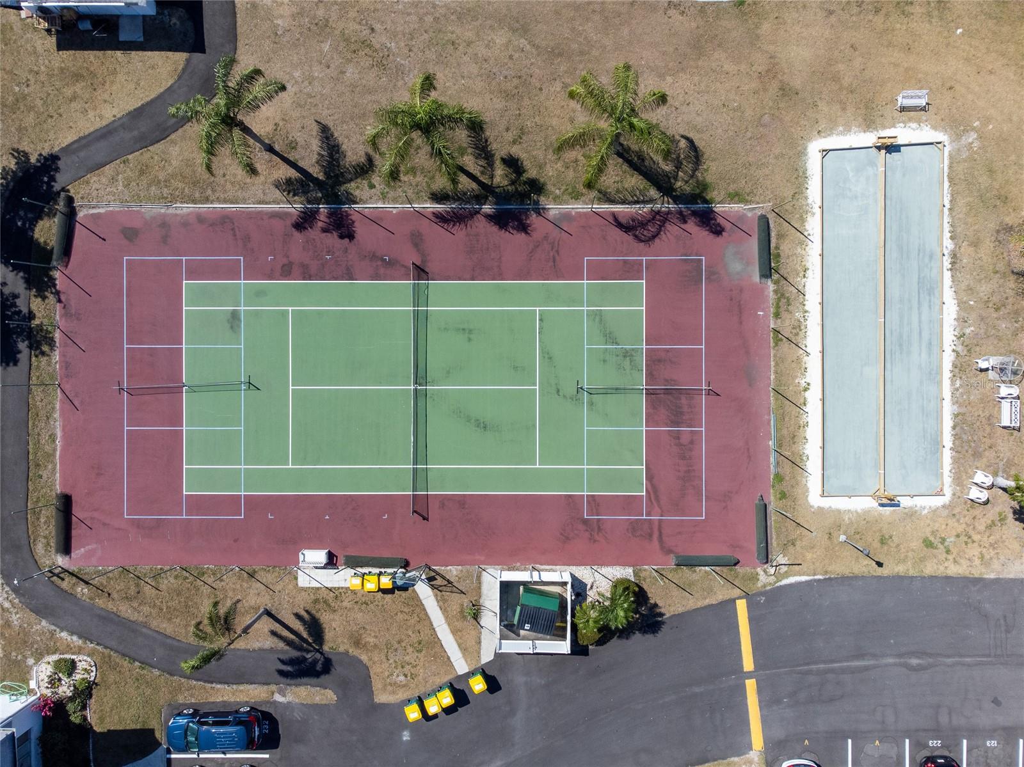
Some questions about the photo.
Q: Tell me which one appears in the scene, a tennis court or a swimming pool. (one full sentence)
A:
Visible in the photo is a tennis court.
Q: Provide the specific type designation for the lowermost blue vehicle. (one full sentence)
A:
It looks like the lowermost blue vehicle is a car.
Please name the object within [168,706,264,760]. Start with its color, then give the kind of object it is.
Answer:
blue car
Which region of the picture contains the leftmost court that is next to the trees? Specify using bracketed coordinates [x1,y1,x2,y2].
[57,208,771,567]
